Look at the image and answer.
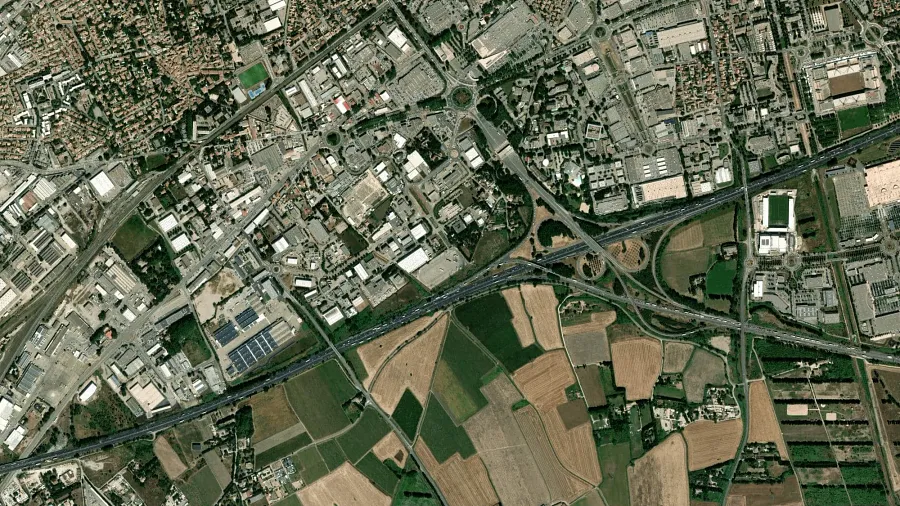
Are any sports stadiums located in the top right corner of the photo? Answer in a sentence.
Yes, looking in the top right corner of the photo, one can make out a sports stadium.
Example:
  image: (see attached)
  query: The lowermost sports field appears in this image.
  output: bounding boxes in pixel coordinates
[769,195,789,228]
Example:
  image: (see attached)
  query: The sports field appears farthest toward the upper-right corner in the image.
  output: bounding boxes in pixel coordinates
[829,71,866,98]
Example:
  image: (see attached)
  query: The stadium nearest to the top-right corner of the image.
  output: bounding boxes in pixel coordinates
[801,48,890,119]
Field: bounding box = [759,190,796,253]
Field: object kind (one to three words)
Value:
stadium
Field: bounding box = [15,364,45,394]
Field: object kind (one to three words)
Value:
building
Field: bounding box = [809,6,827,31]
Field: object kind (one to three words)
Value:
building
